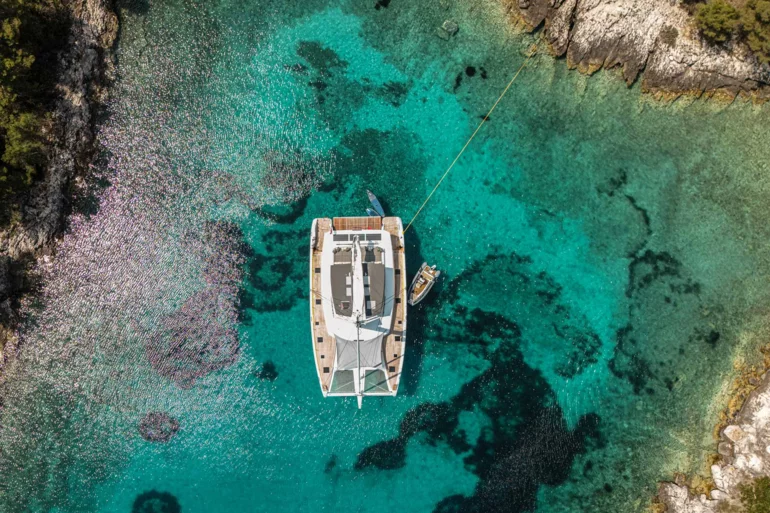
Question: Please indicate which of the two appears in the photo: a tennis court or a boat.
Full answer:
Looking from above, you can make out a boat.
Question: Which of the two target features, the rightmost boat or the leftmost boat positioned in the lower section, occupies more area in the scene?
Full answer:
Compared with the rightmost boat, the leftmost boat positioned in the lower section is the bigger one.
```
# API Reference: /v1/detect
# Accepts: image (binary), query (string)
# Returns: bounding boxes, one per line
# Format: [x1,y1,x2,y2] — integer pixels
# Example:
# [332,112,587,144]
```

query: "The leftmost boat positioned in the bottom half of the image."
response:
[310,217,408,408]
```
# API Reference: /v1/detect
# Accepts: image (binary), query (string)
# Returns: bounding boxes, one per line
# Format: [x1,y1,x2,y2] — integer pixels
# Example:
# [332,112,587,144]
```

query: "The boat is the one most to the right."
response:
[408,263,439,305]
